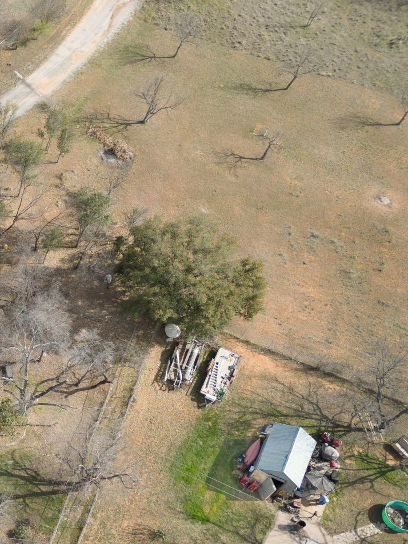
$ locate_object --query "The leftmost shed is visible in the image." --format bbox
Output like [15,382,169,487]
[239,424,315,501]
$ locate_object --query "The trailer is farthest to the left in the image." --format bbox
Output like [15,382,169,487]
[165,342,202,399]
